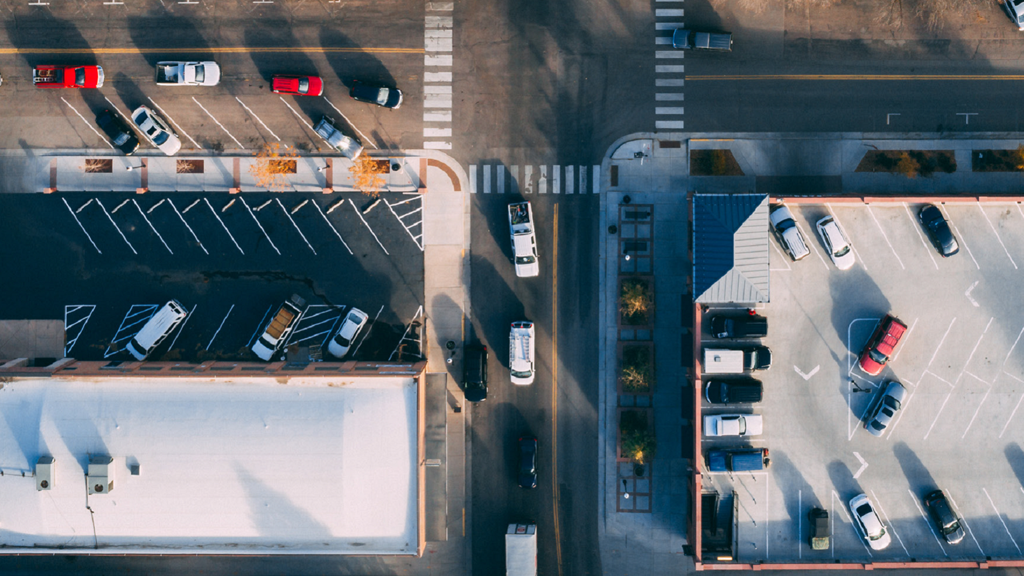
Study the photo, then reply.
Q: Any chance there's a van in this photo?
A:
Yes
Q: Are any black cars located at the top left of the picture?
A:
Yes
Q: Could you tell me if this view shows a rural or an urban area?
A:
urban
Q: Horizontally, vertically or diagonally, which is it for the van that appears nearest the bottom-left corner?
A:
diagonally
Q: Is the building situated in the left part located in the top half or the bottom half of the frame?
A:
bottom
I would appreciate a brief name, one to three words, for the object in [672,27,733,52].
truck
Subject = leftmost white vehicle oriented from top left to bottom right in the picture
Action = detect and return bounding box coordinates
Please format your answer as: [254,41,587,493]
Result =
[130,105,182,158]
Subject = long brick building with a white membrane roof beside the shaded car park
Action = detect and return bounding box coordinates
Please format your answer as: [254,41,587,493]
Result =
[0,355,448,555]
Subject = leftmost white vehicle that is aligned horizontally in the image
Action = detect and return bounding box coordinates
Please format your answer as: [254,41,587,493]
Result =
[154,59,222,87]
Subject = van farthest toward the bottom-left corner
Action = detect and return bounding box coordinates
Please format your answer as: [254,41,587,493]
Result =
[126,297,188,361]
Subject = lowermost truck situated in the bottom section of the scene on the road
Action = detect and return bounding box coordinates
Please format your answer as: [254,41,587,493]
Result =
[506,522,536,576]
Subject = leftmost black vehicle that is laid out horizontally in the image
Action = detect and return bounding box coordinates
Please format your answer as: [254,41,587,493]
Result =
[348,79,403,110]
